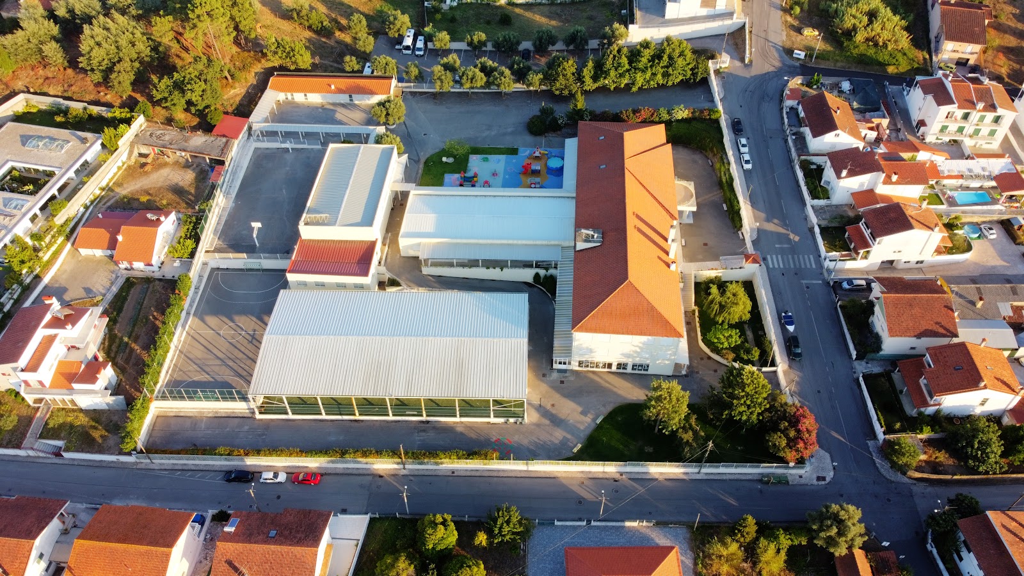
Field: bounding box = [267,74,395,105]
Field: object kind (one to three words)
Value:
building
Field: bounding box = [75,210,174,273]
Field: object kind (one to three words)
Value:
house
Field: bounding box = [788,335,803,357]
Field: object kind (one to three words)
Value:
car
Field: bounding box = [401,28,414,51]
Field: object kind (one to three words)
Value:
vehicle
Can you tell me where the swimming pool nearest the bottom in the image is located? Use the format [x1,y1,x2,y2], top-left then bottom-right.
[962,225,988,243]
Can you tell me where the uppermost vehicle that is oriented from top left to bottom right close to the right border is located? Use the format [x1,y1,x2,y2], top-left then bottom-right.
[978,223,1000,240]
